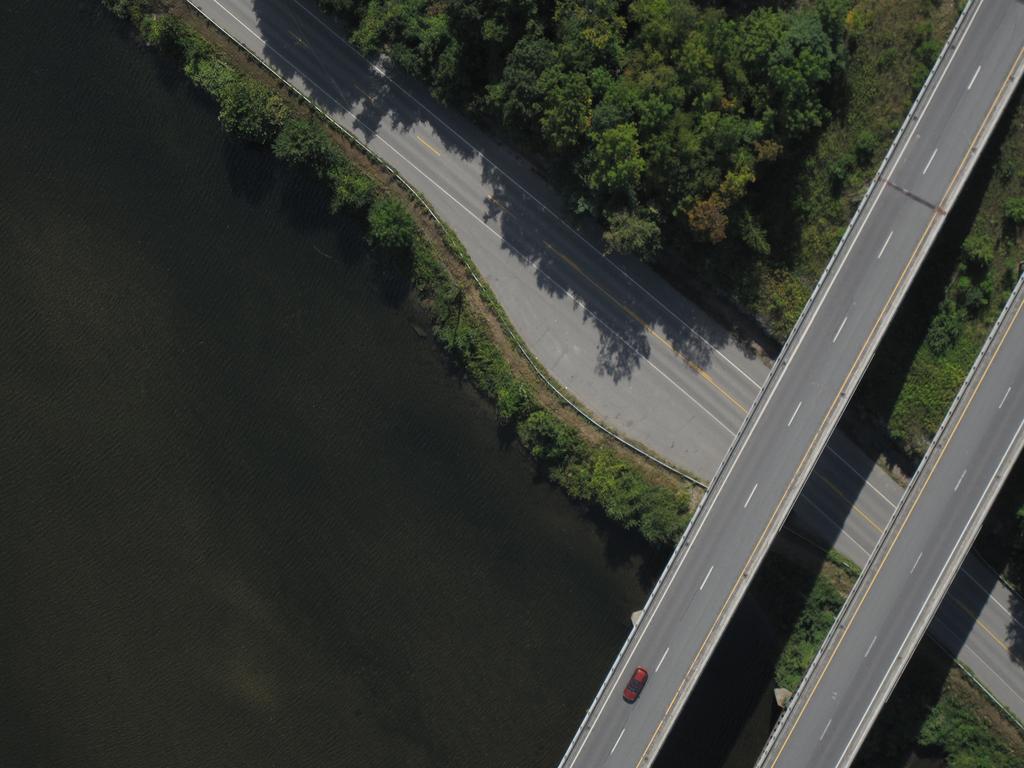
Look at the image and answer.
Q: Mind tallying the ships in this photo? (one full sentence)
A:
The picture shows no ships.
